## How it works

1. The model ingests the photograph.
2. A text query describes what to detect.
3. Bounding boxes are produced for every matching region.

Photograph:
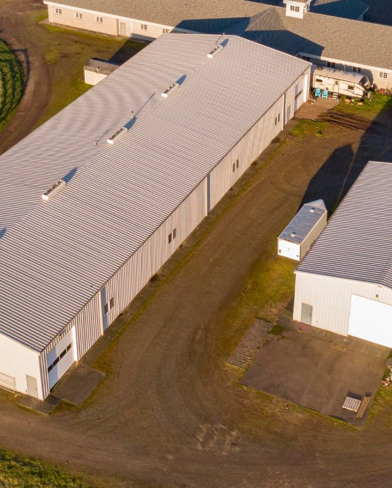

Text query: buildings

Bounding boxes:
[291,161,392,348]
[0,32,314,401]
